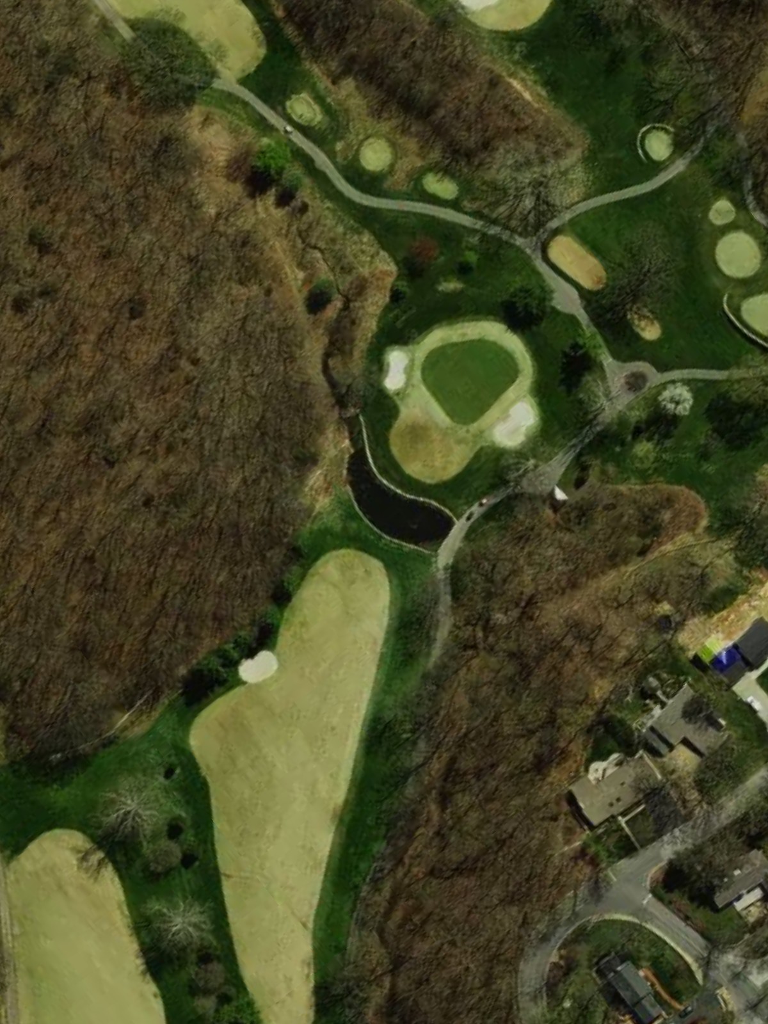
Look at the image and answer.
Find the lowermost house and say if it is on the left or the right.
right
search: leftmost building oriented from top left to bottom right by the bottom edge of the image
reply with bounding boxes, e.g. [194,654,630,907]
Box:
[591,954,671,1024]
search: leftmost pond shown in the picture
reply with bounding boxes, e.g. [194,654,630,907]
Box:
[343,414,454,551]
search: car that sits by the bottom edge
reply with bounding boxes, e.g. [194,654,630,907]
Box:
[677,1004,694,1018]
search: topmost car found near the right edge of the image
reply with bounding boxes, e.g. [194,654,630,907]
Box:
[746,695,763,712]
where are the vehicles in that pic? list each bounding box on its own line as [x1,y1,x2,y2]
[481,497,490,505]
[677,1004,694,1018]
[466,510,475,520]
[284,124,292,132]
[746,695,763,712]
